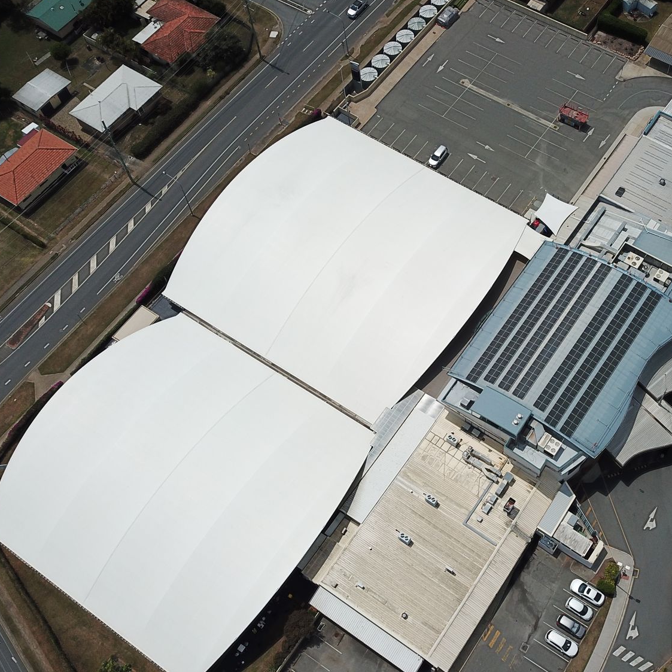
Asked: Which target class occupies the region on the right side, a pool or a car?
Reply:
car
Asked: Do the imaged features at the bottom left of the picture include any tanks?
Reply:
No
